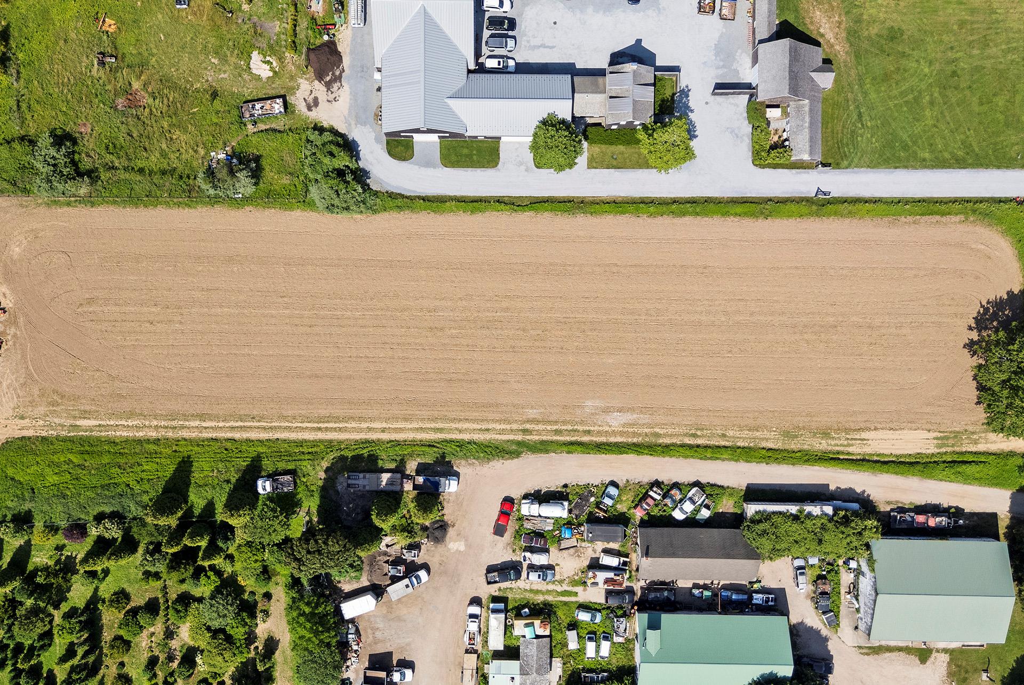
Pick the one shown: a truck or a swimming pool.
truck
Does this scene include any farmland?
Yes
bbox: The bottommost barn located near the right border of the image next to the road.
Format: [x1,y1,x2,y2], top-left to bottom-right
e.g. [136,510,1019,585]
[856,532,1016,643]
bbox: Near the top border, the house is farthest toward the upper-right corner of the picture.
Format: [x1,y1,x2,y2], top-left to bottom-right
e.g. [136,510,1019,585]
[747,0,836,166]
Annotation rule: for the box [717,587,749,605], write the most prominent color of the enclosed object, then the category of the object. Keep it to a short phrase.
blue vehicle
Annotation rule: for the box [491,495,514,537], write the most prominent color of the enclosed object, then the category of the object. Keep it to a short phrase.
red truck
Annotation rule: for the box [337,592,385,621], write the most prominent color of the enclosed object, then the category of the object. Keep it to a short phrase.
white trailer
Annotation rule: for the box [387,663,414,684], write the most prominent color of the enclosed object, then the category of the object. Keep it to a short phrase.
white truck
